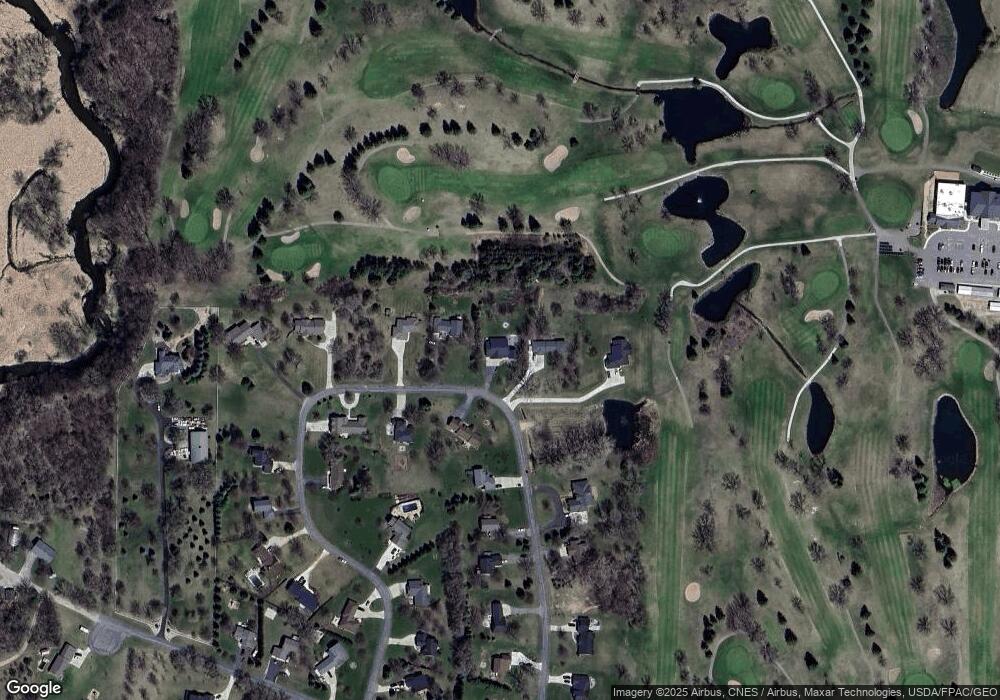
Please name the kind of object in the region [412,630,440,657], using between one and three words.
house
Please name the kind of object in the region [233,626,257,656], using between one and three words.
house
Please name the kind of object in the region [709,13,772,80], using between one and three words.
pond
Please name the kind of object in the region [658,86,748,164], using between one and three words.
pond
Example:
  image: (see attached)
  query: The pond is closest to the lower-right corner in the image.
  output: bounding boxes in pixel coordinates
[934,394,977,494]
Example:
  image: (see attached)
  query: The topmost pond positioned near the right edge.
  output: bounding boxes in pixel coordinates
[939,0,990,109]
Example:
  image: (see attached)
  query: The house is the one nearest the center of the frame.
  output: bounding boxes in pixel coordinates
[484,337,520,359]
